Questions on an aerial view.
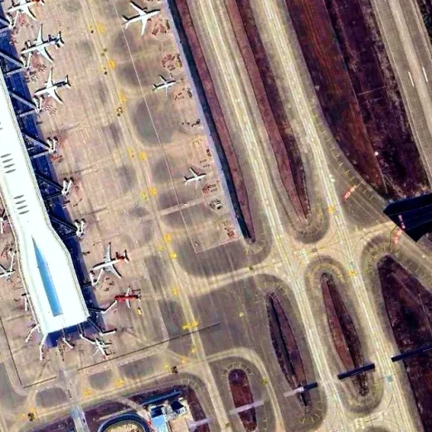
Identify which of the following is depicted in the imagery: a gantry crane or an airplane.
airplane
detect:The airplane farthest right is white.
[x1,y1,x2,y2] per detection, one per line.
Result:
[182,169,205,189]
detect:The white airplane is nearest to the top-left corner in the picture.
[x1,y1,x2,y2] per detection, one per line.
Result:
[7,0,43,20]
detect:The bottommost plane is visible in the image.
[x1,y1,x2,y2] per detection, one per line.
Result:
[92,339,111,360]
